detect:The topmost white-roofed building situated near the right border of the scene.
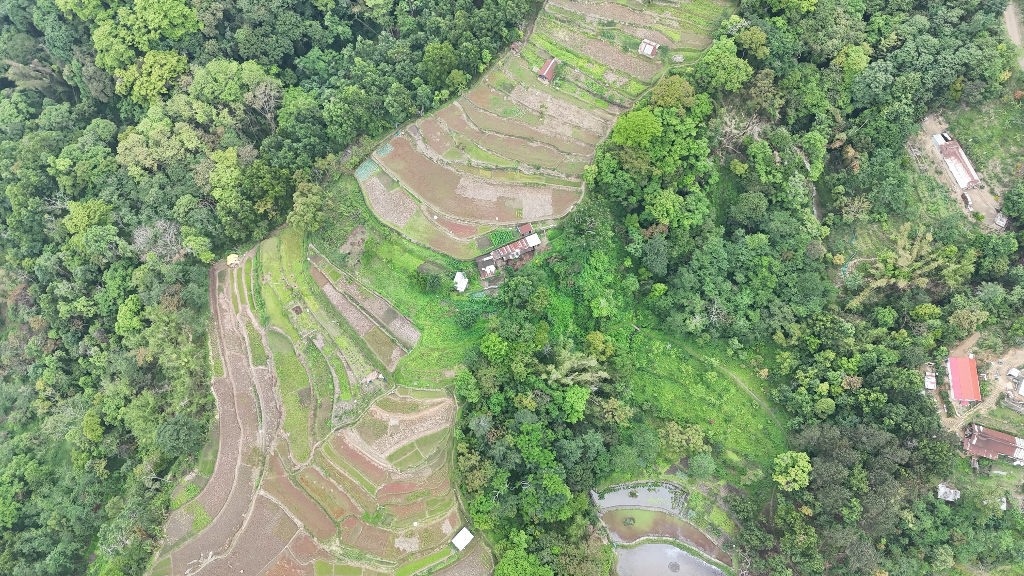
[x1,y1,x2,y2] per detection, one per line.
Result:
[929,132,980,191]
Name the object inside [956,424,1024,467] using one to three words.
shed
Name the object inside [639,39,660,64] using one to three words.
shed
